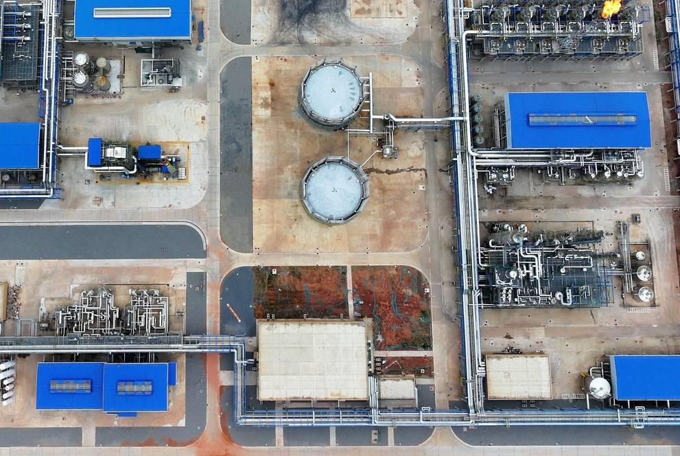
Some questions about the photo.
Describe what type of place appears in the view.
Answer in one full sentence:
This looks like an industrial area.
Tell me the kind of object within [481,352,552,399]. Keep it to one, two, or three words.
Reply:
shed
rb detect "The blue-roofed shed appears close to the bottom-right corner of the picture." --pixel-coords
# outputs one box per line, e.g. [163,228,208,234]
[603,352,680,401]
